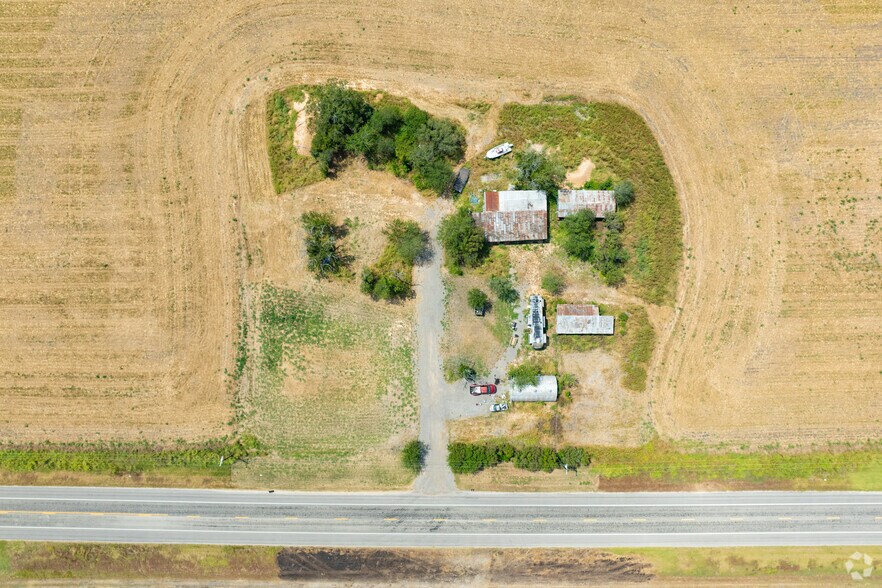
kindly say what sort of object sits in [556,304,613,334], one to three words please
shed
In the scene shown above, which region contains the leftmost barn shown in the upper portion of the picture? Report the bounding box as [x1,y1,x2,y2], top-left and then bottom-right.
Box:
[472,190,547,242]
